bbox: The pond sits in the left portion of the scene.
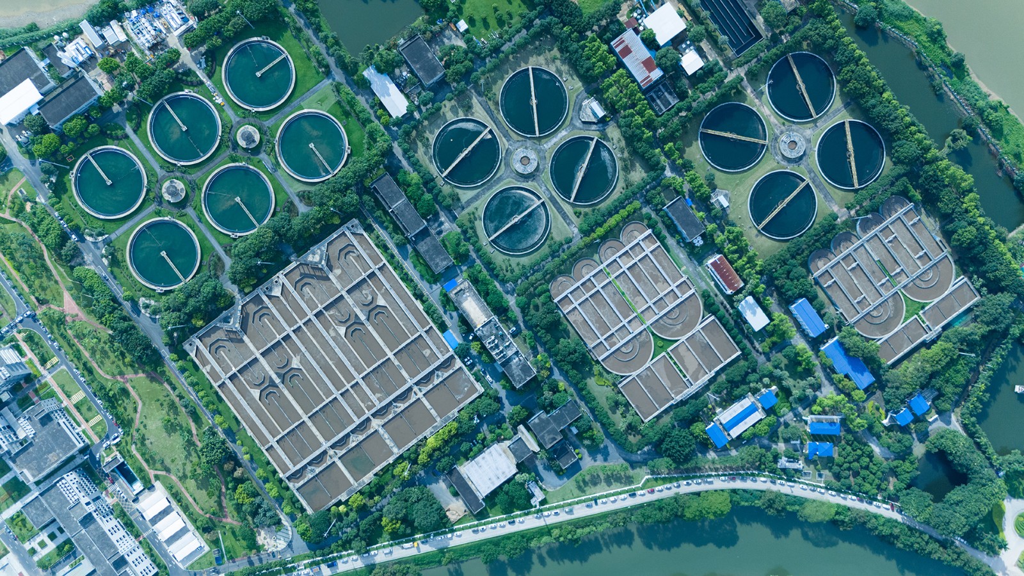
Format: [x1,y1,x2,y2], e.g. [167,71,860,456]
[318,0,424,58]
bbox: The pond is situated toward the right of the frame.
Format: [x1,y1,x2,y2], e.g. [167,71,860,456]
[911,447,971,507]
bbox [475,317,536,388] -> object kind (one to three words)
building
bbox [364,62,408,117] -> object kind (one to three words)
shed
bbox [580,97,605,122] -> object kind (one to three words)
house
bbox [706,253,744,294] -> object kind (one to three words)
house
